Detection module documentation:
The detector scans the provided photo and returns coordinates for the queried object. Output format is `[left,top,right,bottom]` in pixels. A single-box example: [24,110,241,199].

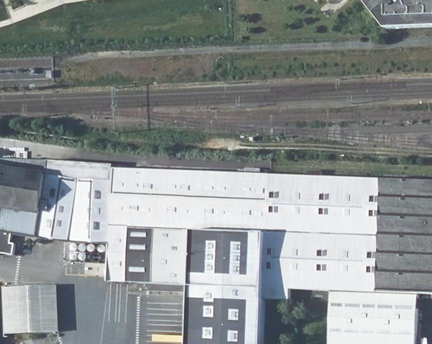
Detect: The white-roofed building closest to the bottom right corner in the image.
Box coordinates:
[327,292,421,344]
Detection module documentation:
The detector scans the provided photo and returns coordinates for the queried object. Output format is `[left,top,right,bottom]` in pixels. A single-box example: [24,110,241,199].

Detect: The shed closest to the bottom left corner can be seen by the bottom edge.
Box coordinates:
[2,284,61,336]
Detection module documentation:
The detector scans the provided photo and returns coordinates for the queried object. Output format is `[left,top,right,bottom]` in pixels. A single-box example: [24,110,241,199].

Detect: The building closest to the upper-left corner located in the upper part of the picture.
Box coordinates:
[0,54,56,86]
